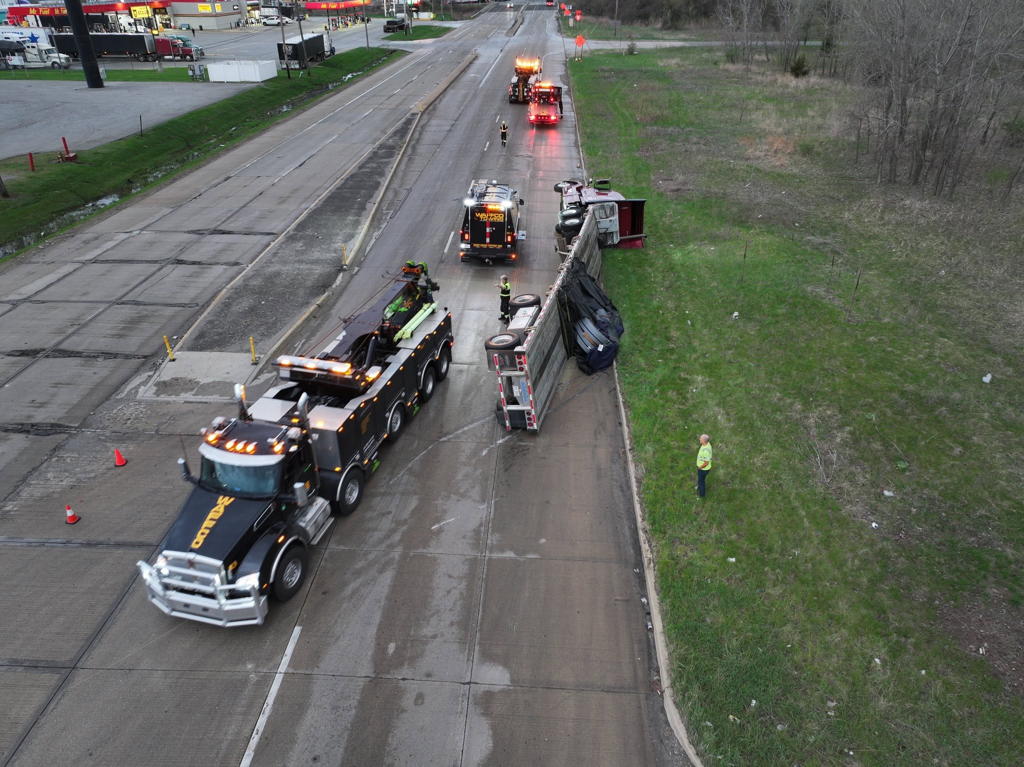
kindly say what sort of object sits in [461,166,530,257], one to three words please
truck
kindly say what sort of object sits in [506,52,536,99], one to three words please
truck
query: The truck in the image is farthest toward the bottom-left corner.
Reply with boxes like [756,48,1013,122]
[138,253,456,631]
